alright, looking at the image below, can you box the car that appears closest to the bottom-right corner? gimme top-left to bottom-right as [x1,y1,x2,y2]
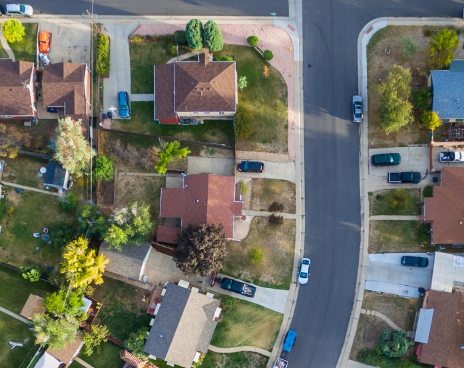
[399,255,429,268]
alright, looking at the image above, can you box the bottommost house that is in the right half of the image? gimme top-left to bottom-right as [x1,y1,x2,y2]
[417,290,464,368]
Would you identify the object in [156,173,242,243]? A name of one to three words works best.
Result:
house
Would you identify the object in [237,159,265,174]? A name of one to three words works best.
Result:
car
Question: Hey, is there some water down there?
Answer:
No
